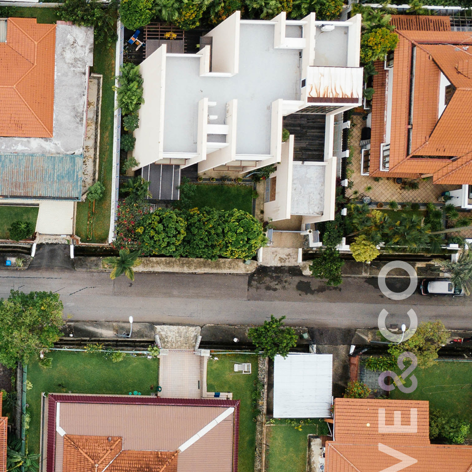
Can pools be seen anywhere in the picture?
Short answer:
No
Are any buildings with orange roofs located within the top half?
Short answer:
Yes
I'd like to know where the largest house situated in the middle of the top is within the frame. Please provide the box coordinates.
[130,11,363,225]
